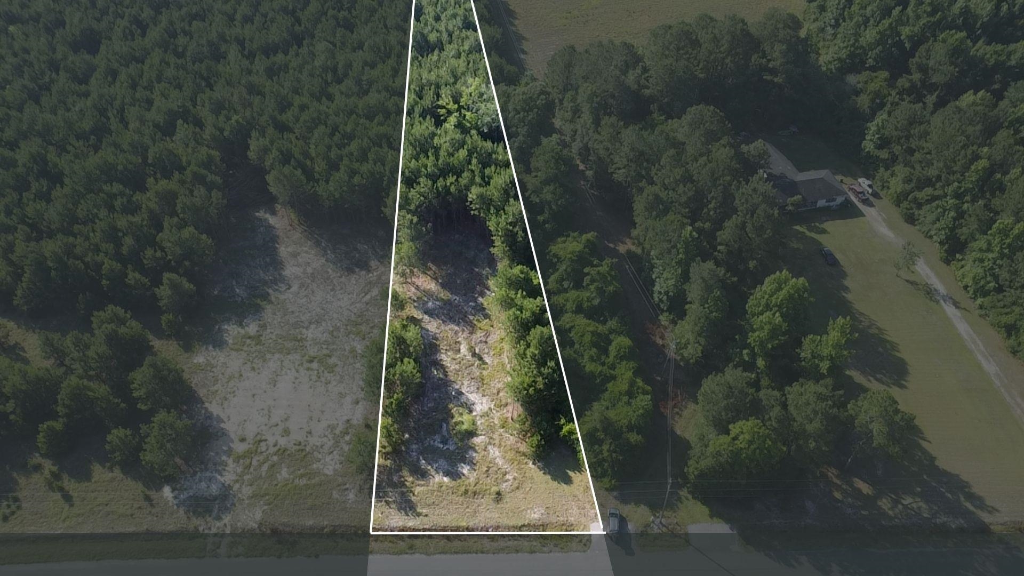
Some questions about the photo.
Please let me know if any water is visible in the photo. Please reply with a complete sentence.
No, the scene doesn't show any water.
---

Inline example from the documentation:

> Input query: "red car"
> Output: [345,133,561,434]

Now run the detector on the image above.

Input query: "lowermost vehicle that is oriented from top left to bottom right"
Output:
[818,249,839,264]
